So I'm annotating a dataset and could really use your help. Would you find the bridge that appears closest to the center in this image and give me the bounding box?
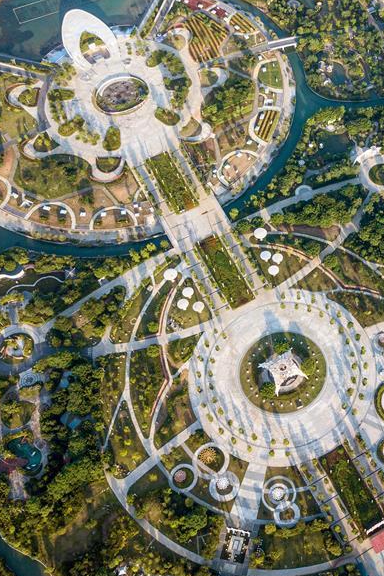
[166,196,235,255]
